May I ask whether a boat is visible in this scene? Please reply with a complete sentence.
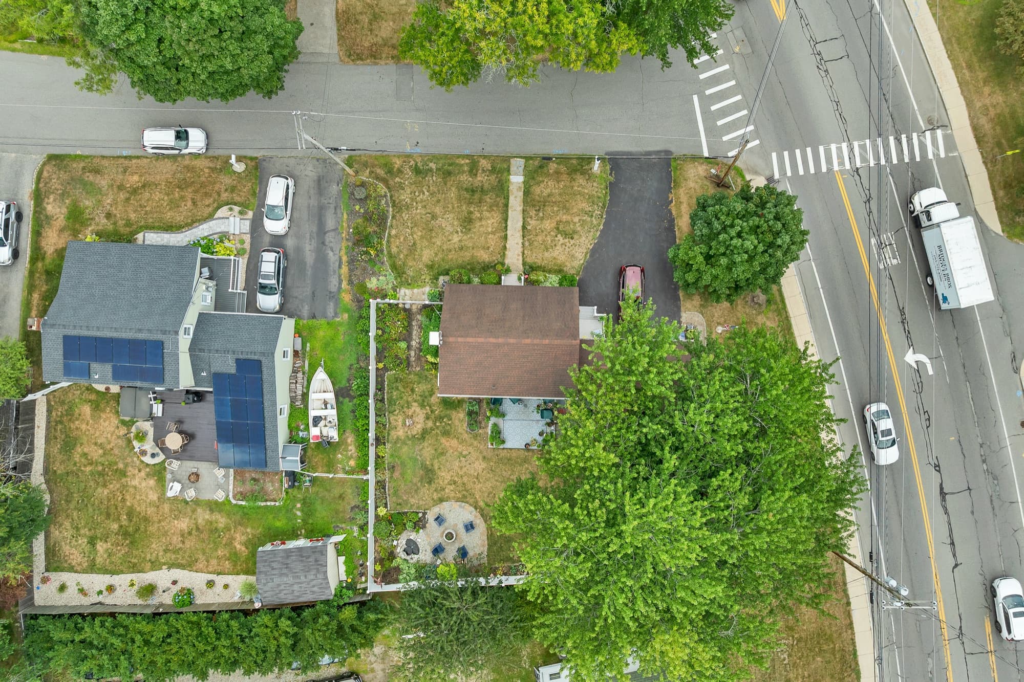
Yes, there's a boat here.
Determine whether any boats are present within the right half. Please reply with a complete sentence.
No, within the right half there is no boat.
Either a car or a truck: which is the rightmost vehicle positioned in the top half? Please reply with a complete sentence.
The rightmost vehicle positioned in the top half in the image is a truck.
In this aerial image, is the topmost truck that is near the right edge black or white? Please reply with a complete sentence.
In this view, the topmost truck that is near the right edge is white.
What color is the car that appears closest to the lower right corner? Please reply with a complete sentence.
The color of the car that appears closest to the lower right corner is white.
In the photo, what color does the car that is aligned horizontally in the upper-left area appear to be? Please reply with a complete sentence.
The color of the car that is aligned horizontally in the upper-left area is white.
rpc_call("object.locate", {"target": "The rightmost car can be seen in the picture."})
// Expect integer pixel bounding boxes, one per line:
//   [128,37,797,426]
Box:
[988,574,1024,642]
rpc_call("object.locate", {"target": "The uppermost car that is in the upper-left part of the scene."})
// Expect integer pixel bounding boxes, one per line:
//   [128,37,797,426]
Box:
[141,124,209,157]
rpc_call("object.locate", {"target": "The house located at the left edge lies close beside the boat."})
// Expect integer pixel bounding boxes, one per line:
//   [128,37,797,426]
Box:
[26,240,309,471]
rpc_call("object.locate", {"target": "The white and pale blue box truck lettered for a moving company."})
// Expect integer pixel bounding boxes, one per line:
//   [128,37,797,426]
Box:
[904,186,994,312]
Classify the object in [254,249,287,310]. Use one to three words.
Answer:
car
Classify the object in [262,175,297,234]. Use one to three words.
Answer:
car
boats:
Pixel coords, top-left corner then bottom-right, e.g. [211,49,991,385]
[309,366,337,449]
